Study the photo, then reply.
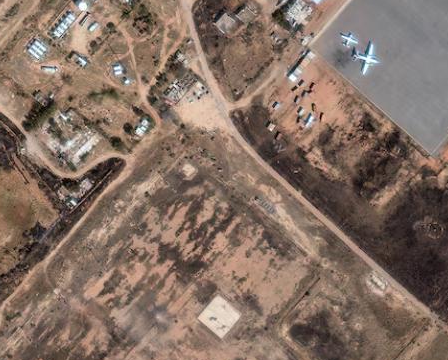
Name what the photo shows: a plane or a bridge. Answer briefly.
plane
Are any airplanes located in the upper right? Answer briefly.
Yes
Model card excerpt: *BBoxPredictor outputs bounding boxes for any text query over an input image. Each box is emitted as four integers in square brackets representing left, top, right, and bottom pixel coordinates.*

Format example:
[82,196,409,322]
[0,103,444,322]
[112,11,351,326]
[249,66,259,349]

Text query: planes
[353,45,379,73]
[342,35,358,47]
